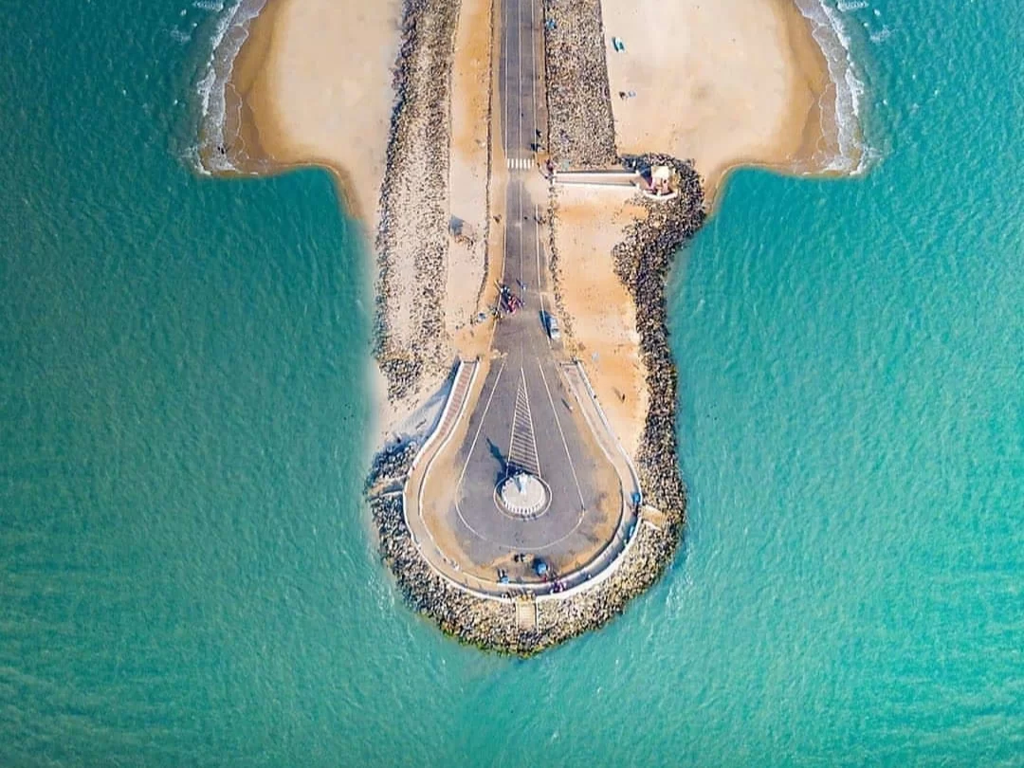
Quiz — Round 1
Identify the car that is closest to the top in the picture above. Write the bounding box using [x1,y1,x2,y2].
[548,318,560,336]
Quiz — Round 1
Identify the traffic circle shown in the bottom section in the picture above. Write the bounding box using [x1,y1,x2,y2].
[445,346,617,581]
